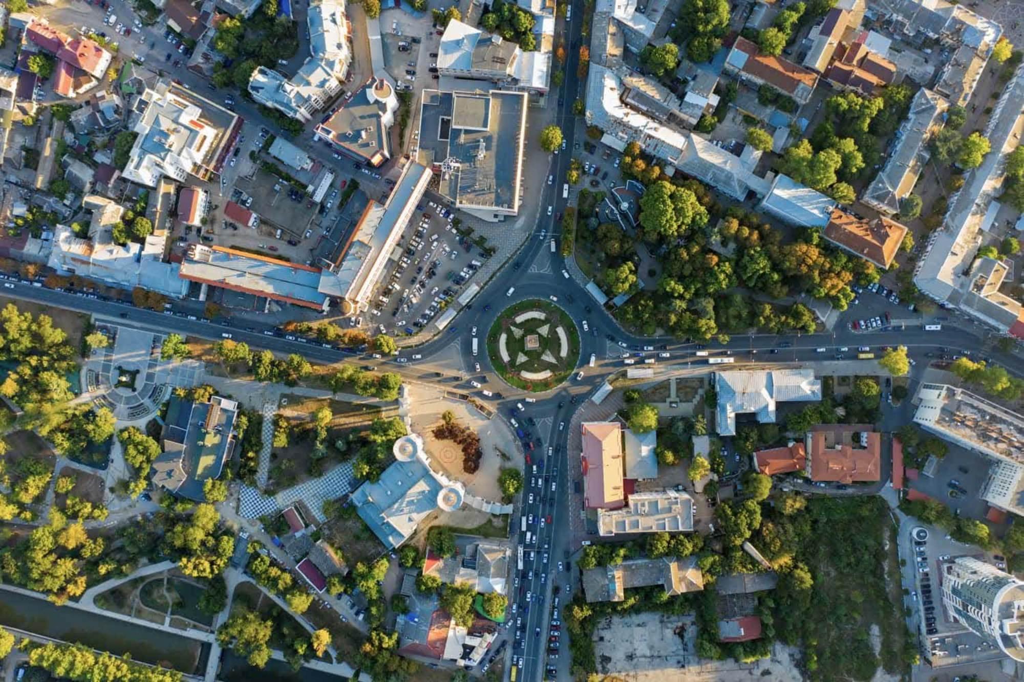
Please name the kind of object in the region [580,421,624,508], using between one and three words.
building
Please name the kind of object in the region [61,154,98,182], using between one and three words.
house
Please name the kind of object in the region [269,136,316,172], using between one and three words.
shed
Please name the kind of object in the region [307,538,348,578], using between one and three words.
barn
